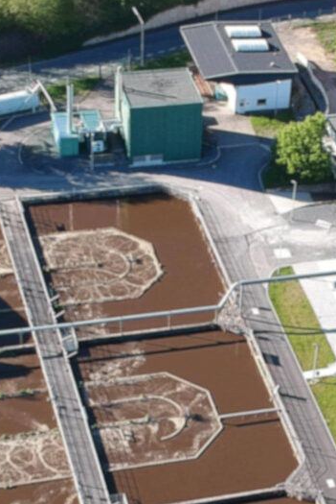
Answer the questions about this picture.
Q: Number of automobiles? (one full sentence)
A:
Not a single automobile can be seen.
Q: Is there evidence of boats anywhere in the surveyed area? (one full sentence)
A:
No, this view has no boat in it.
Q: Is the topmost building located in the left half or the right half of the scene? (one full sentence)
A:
The topmost building sits on the right side.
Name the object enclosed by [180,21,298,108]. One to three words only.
building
